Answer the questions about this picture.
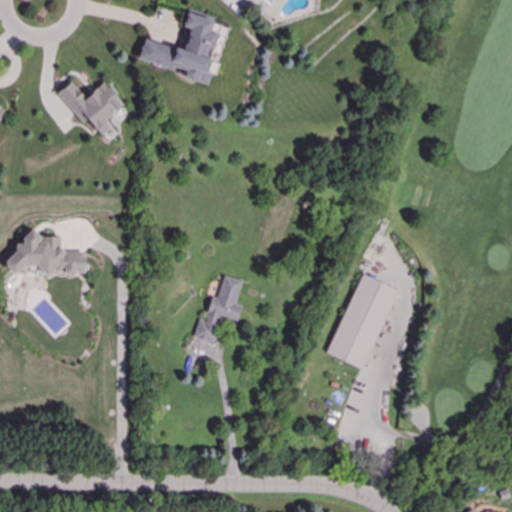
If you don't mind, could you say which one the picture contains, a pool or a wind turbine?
pool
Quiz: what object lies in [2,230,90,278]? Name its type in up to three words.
house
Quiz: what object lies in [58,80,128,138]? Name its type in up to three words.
house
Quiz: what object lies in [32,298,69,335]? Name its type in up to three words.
swimming pool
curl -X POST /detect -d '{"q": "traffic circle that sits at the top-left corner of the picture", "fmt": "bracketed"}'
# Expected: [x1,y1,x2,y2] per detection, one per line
[0,0,87,46]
